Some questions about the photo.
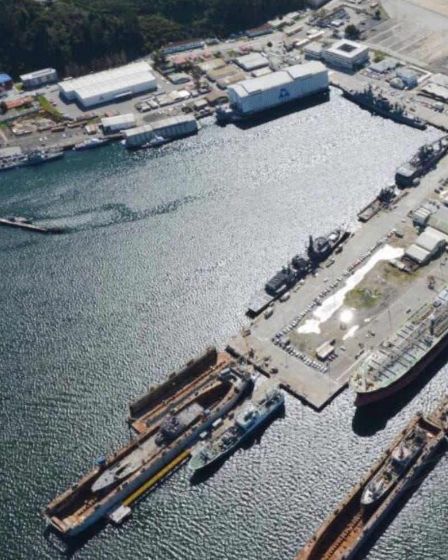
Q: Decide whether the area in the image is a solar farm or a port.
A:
port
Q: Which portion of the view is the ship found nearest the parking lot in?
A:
top right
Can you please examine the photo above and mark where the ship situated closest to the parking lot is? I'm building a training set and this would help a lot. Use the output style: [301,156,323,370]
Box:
[344,86,429,134]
